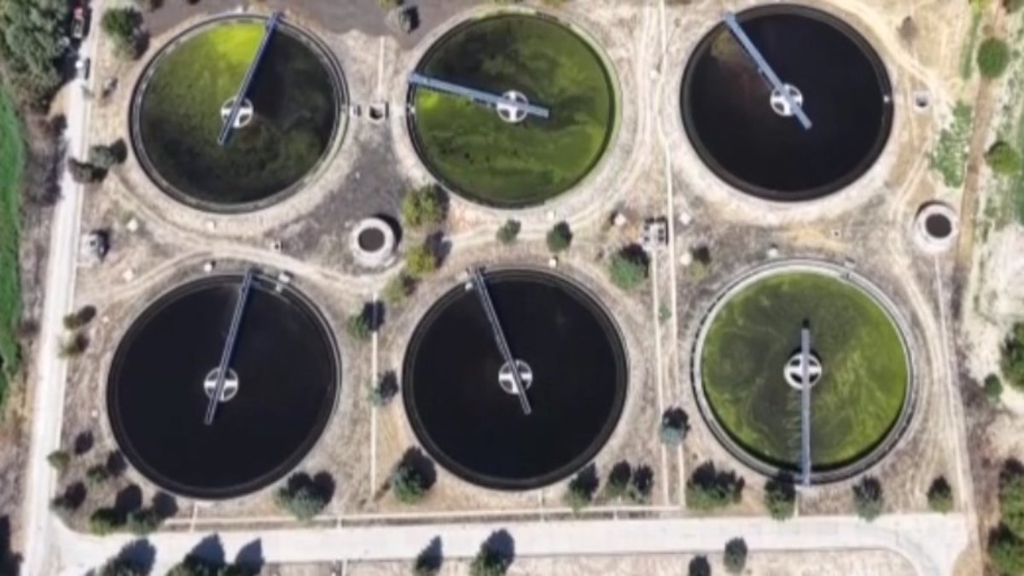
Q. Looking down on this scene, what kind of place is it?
industrial area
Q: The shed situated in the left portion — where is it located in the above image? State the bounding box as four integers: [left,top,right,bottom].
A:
[82,236,109,268]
